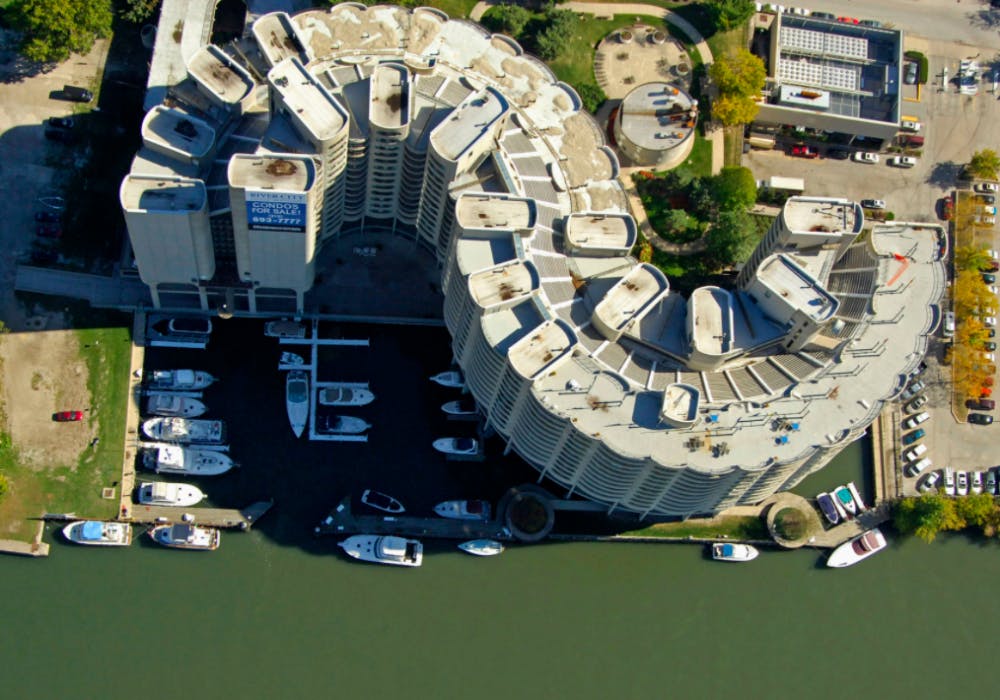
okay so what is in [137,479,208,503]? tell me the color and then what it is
white boat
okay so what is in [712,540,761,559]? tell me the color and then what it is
white boat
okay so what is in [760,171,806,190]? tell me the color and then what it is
white vehicle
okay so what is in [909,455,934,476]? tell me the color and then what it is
white car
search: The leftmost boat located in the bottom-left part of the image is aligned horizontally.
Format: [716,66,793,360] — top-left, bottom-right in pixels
[62,517,133,545]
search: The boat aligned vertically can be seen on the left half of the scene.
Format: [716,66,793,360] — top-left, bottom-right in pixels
[286,370,309,437]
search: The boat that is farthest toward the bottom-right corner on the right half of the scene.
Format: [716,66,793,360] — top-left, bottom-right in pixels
[827,525,893,566]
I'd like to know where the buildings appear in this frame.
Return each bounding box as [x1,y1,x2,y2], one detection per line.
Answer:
[121,0,951,520]
[747,13,902,150]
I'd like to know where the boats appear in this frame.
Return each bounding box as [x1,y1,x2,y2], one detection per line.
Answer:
[359,487,404,512]
[286,370,309,437]
[146,368,220,388]
[139,441,237,474]
[146,521,223,549]
[317,415,373,432]
[441,399,481,415]
[146,393,209,413]
[318,386,377,404]
[458,539,504,555]
[279,351,305,363]
[429,370,463,387]
[432,435,479,455]
[62,517,133,545]
[336,532,425,565]
[827,525,893,566]
[434,500,491,519]
[816,491,838,523]
[137,479,208,503]
[142,414,224,441]
[831,483,857,515]
[712,540,761,559]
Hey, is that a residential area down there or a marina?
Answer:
marina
